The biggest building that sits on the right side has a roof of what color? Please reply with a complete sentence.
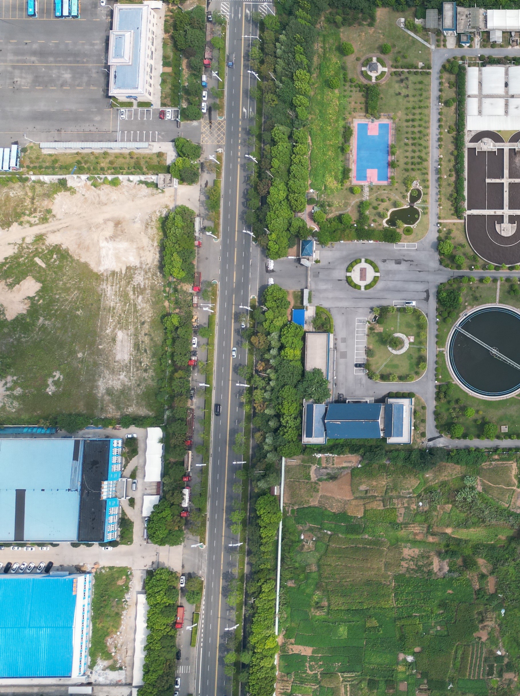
The color of the roof on the biggest building that sits on the right side is blue.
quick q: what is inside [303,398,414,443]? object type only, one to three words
building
